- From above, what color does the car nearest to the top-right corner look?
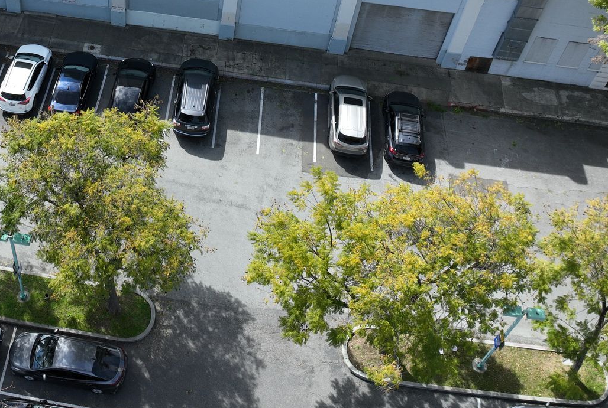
black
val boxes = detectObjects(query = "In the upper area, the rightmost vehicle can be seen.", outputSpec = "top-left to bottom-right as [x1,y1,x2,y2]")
[377,93,423,167]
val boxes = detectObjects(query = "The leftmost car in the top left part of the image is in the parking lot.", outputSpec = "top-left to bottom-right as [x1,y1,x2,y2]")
[0,45,44,113]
